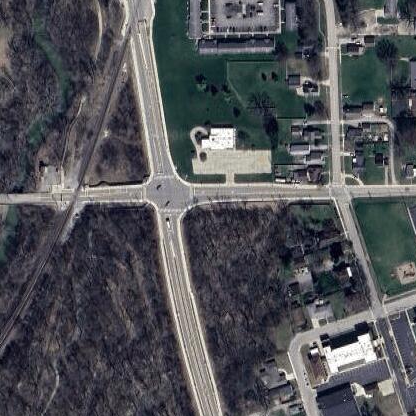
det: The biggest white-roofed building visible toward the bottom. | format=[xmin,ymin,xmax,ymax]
[323,333,378,375]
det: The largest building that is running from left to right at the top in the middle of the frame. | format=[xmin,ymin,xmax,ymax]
[217,38,274,52]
